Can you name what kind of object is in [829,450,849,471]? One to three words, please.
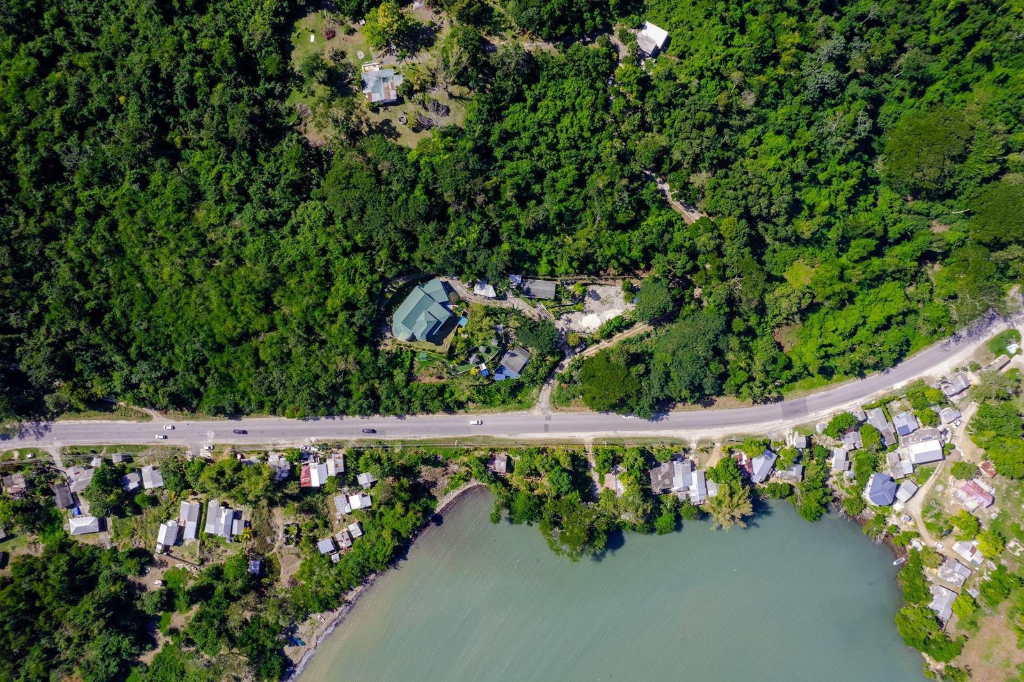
house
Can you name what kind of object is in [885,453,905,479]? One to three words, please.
house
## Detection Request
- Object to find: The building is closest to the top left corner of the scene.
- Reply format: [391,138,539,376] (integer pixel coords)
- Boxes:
[362,69,403,104]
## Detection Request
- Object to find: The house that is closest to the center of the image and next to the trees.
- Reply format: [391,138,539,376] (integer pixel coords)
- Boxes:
[500,346,529,374]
